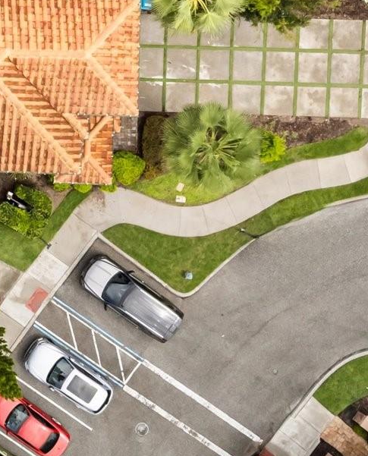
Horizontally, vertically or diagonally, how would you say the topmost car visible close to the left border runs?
diagonally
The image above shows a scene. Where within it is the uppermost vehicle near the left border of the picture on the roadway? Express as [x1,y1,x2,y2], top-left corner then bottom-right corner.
[17,329,114,417]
